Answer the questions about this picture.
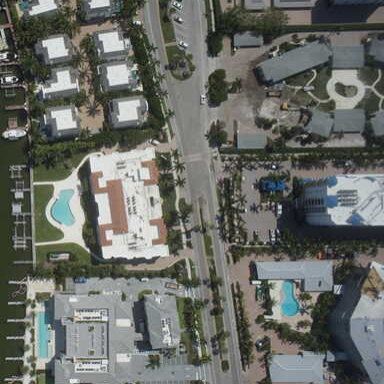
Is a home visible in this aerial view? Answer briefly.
Yes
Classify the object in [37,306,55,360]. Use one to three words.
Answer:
swimming pool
